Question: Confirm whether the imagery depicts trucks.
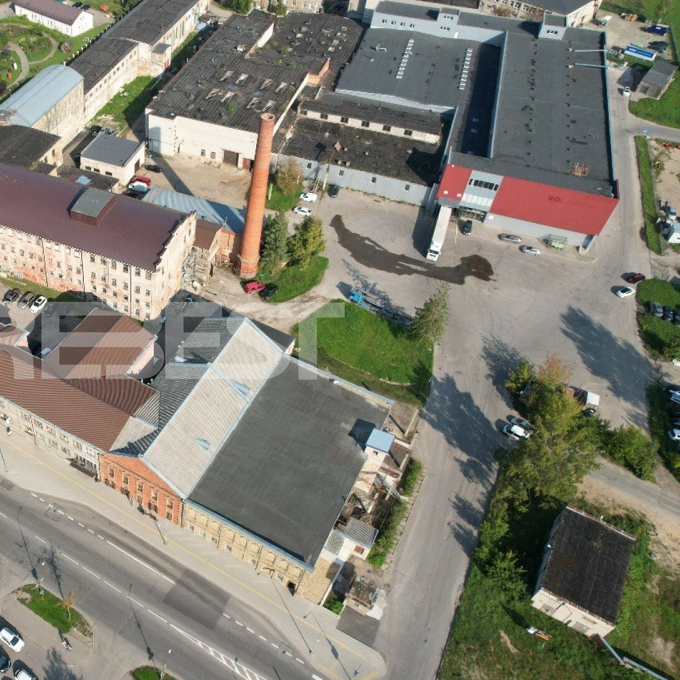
Yes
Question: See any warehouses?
Yes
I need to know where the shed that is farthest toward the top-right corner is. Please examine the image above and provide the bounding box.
[637,59,680,101]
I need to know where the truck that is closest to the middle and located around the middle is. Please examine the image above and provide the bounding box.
[342,293,410,335]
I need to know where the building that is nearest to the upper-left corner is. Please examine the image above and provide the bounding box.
[12,0,94,41]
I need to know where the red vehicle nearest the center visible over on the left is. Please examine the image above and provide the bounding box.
[243,280,266,293]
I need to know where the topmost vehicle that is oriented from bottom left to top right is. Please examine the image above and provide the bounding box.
[601,13,614,27]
